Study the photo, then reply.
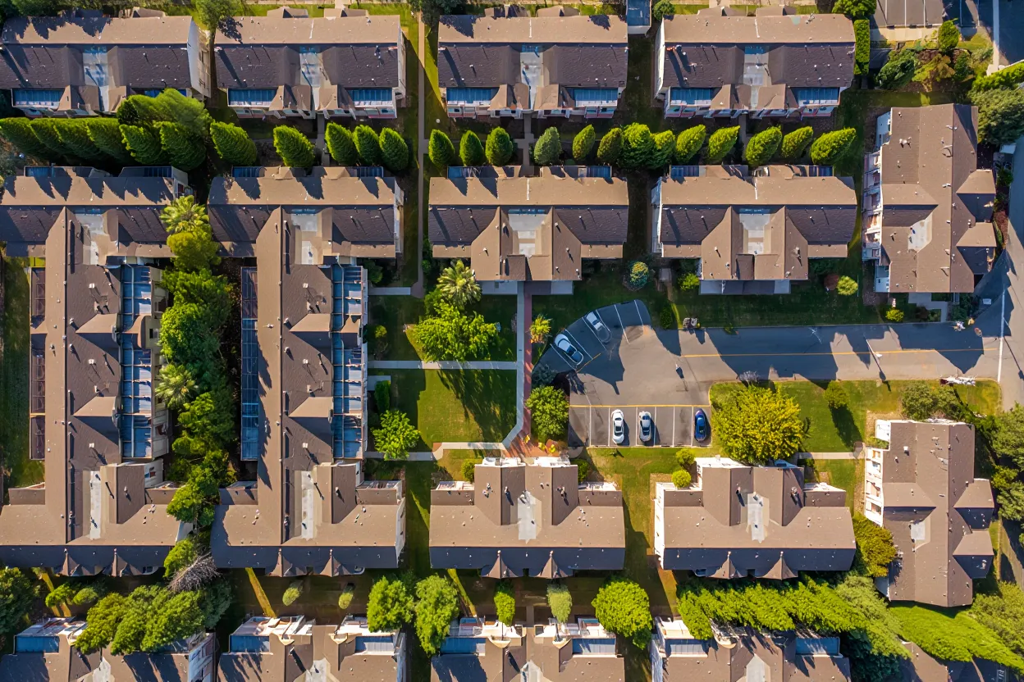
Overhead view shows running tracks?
No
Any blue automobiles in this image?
Yes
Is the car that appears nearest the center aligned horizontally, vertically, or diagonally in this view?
diagonally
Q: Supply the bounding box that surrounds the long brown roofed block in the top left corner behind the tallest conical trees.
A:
[0,7,211,121]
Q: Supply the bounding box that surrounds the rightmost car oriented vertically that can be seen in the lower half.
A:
[693,409,710,442]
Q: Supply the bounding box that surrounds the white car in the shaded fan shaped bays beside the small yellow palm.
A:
[554,332,584,365]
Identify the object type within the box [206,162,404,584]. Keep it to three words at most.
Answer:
building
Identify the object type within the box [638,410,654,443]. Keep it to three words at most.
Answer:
car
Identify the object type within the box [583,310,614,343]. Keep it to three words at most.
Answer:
car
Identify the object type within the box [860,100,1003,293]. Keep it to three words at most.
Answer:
building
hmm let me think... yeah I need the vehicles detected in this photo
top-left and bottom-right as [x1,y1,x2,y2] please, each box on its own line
[583,310,614,343]
[693,409,710,442]
[638,410,654,443]
[554,332,584,365]
[609,409,626,444]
